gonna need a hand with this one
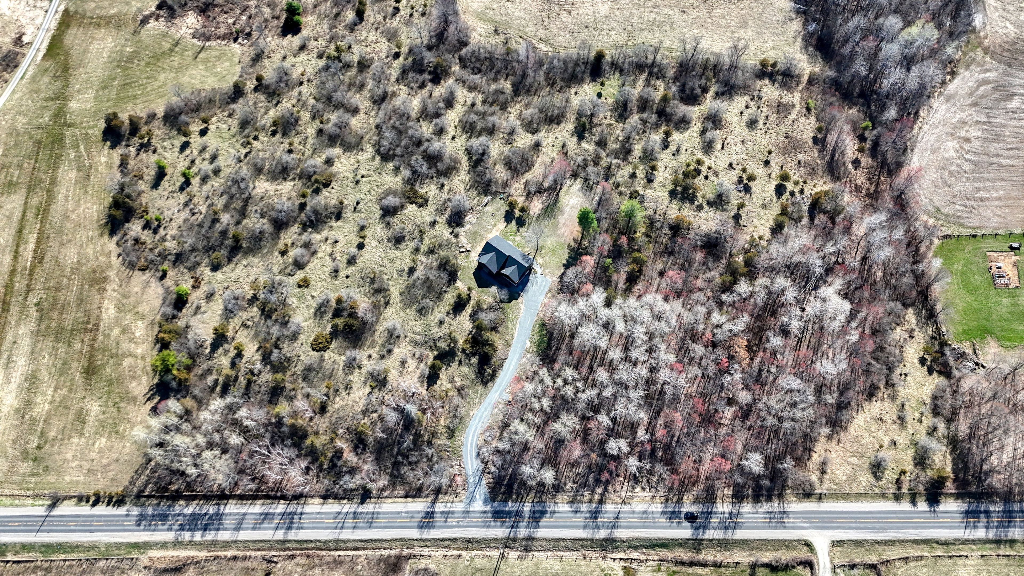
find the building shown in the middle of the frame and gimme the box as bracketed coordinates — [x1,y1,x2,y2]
[474,235,535,287]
